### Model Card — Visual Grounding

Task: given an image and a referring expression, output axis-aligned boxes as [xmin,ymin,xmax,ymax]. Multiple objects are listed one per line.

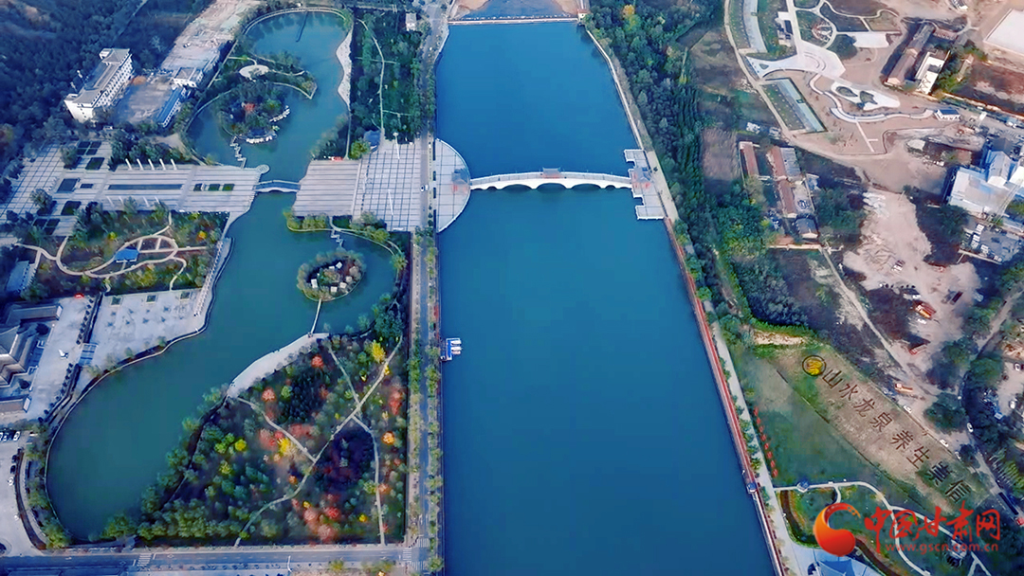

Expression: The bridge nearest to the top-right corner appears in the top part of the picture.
[468,171,633,190]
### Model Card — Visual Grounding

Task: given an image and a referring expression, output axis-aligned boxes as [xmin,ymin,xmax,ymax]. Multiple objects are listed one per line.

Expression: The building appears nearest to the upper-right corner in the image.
[983,5,1024,59]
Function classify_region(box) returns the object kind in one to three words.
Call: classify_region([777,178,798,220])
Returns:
barn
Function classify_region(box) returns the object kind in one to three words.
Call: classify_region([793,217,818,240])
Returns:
house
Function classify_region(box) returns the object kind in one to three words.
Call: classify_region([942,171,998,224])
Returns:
building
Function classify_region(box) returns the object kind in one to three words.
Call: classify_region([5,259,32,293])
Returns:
building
